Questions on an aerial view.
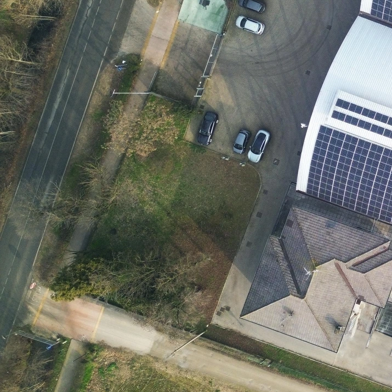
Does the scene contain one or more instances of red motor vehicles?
No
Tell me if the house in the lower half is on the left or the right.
right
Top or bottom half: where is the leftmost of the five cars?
top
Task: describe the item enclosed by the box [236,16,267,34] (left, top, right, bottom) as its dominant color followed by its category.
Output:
white car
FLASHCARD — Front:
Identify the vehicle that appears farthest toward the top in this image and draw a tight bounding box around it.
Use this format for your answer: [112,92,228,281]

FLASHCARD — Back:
[237,0,267,14]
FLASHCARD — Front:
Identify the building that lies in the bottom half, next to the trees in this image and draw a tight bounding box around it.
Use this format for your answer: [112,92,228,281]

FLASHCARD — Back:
[240,207,392,353]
